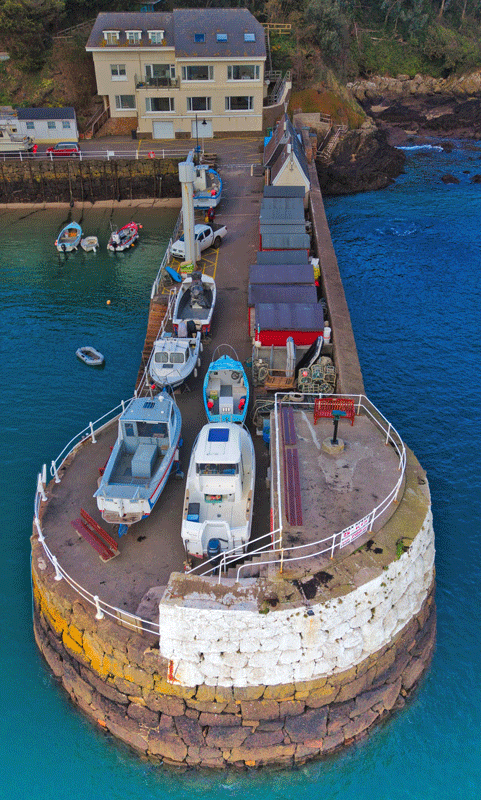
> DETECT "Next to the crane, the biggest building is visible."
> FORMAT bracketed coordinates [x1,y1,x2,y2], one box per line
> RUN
[86,6,272,138]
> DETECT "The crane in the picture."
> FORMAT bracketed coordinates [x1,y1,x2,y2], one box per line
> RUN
[178,136,201,266]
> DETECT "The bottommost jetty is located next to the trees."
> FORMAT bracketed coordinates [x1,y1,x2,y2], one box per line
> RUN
[34,158,438,766]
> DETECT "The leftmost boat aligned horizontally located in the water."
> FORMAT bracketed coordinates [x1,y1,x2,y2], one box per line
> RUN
[75,350,107,366]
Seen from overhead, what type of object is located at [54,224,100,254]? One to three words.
boat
